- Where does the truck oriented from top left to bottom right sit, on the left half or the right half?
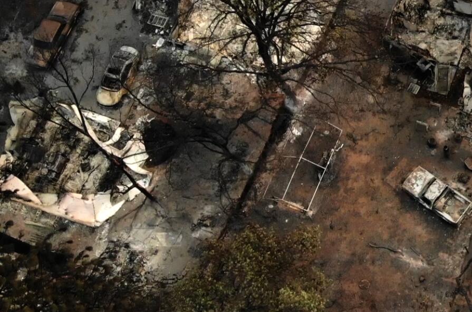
right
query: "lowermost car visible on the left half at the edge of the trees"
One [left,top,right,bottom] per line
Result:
[104,50,140,106]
